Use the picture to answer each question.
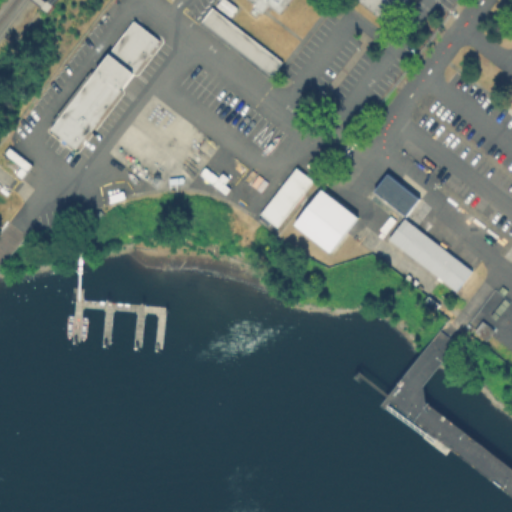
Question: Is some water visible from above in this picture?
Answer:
Yes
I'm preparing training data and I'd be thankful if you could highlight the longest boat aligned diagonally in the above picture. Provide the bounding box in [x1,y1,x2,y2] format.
[264,137,281,154]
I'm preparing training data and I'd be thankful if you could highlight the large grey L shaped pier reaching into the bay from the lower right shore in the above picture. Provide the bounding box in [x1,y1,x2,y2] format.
[354,330,512,497]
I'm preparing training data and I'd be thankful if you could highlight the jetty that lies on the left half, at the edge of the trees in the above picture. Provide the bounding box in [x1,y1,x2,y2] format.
[72,256,168,352]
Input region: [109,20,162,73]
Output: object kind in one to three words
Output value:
building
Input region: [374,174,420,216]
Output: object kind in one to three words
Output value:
building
